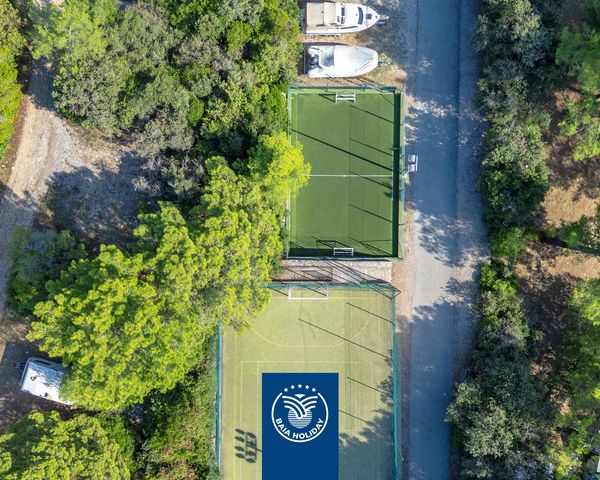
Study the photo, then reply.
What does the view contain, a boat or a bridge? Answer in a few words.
boat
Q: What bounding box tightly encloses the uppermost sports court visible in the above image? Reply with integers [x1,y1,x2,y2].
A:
[289,89,402,257]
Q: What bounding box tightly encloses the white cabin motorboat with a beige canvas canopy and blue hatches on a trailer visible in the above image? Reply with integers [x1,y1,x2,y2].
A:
[302,1,383,33]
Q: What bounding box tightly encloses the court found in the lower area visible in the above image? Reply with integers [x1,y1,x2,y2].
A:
[220,285,396,480]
